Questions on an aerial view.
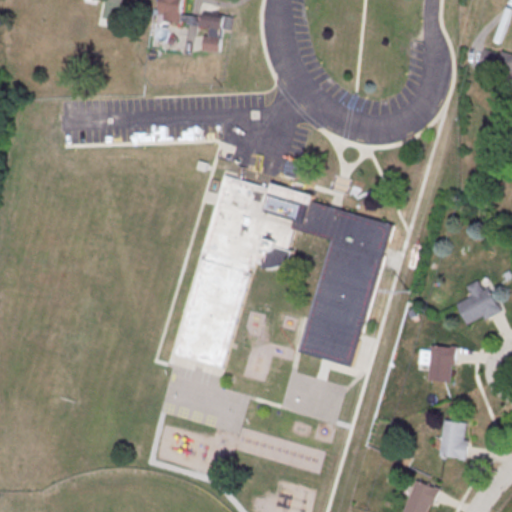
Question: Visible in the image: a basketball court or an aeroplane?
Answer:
basketball court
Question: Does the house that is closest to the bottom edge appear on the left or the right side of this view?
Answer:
right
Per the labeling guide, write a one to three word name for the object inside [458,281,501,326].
house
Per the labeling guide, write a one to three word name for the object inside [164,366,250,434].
sports court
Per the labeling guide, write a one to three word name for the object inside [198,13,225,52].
house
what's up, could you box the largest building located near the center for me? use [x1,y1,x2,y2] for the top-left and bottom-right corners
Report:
[173,168,394,368]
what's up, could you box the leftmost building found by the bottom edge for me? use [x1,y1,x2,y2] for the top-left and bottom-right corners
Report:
[404,481,439,512]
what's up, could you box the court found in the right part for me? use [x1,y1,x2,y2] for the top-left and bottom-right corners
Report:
[282,371,347,423]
